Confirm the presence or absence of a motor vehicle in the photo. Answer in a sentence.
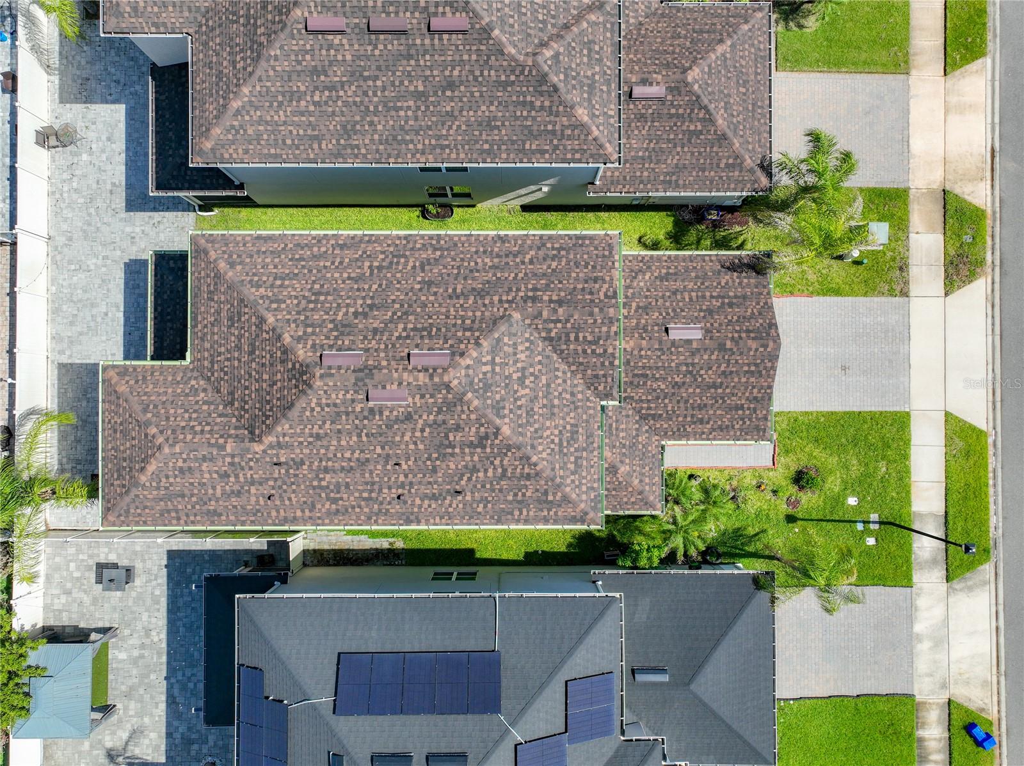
No, there's no motor vehicle here.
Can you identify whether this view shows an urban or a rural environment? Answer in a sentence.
It looks urban.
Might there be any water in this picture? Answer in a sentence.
No, there is no water in the image.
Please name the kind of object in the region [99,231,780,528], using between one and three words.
house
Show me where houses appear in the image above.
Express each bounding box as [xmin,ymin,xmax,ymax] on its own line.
[192,550,776,766]
[99,231,780,528]
[100,0,772,214]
